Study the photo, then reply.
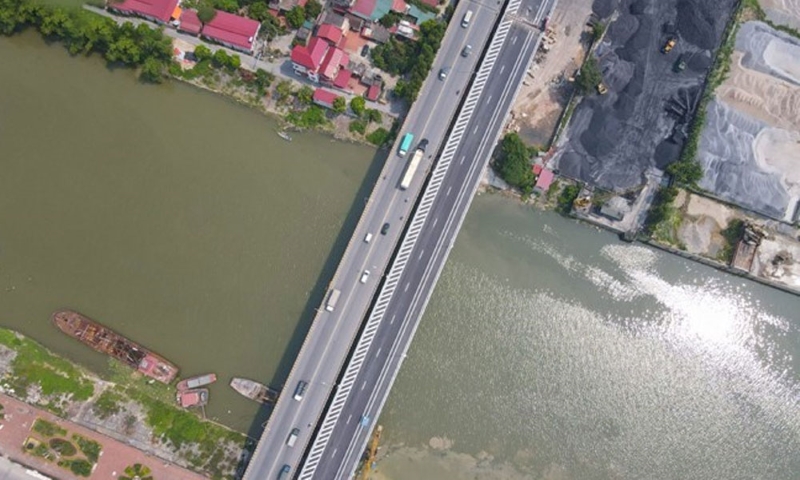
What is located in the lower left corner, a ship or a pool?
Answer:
ship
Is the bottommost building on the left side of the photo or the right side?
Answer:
right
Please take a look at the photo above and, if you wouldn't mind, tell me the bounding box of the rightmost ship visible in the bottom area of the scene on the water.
[230,379,279,406]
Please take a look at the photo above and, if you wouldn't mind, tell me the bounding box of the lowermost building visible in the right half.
[600,195,630,220]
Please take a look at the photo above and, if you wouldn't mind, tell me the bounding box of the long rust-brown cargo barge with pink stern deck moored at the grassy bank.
[55,313,178,386]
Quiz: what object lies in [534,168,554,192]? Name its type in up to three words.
shed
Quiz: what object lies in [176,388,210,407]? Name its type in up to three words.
boat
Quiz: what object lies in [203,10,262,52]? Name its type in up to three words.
building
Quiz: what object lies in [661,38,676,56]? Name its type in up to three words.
work vehicle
